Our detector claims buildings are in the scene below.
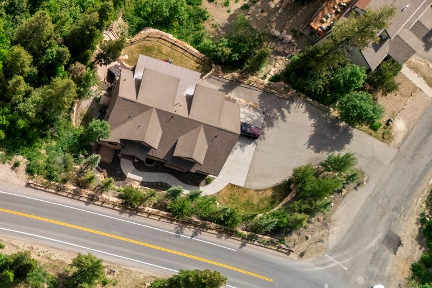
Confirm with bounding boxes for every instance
[96,54,240,178]
[338,0,432,76]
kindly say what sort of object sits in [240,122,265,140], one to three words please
car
